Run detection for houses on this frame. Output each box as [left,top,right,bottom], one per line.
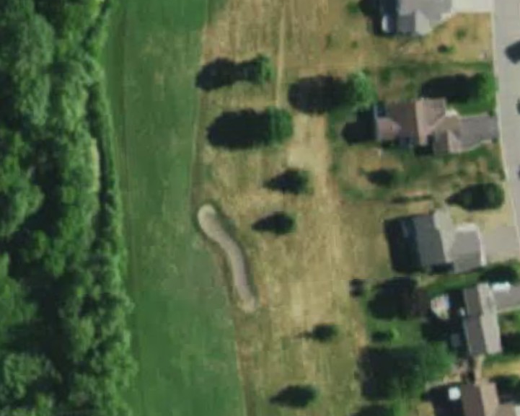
[400,210,487,275]
[378,95,464,152]
[456,382,519,416]
[464,283,504,357]
[381,0,457,35]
